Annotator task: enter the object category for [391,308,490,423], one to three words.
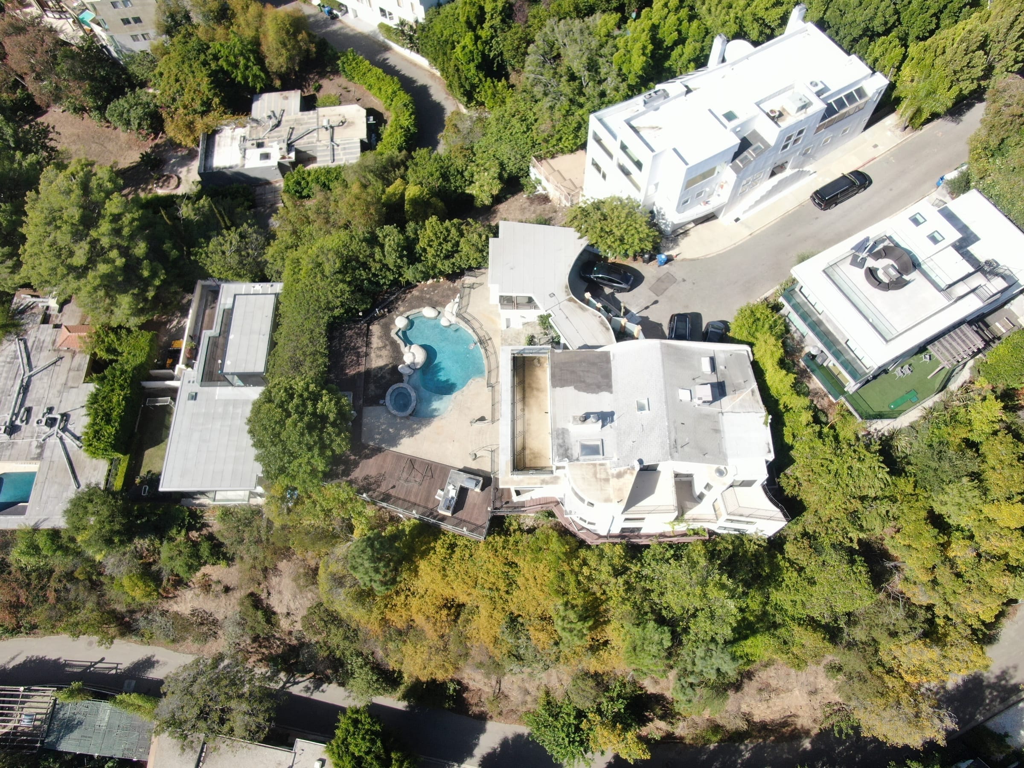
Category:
swimming pool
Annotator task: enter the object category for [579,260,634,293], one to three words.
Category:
car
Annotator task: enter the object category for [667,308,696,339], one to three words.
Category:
car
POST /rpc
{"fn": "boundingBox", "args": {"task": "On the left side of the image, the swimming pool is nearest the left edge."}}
[0,467,37,516]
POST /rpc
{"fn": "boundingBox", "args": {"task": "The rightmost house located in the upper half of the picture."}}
[776,189,1024,425]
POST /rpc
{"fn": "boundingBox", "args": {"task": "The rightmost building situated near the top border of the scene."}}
[584,4,889,248]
